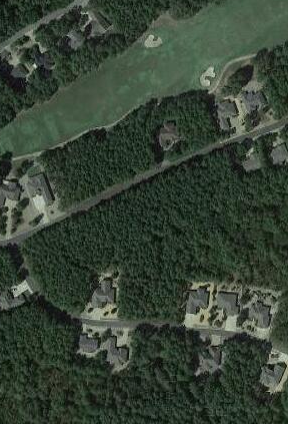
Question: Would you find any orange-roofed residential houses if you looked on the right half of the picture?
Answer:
No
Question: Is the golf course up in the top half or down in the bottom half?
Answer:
top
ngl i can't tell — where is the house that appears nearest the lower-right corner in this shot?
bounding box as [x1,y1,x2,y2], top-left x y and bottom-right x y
[259,362,285,386]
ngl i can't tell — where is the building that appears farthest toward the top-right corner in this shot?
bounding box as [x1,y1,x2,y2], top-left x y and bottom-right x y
[240,87,266,111]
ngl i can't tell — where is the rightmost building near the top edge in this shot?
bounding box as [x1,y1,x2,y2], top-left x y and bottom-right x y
[84,14,107,39]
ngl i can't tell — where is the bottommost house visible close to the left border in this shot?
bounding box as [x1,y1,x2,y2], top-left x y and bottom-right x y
[0,291,26,312]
